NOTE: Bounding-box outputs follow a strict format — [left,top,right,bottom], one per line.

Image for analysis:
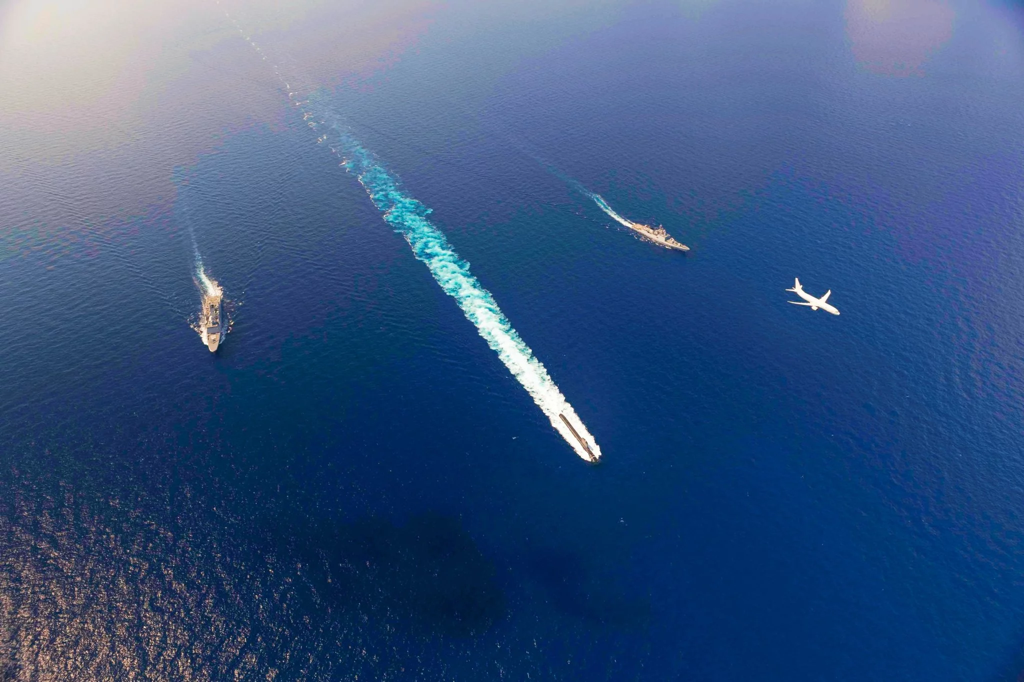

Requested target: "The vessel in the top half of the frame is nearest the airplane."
[631,220,690,253]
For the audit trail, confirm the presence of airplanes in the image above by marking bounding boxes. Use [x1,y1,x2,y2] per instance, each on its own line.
[786,278,840,315]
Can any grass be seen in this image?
No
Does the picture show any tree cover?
No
